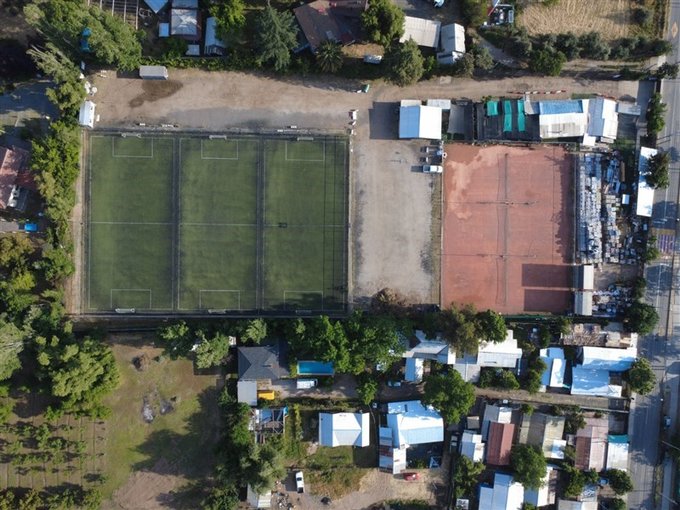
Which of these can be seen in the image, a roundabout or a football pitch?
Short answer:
football pitch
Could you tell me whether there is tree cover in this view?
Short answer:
Yes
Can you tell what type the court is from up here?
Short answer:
tennis court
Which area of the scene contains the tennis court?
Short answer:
right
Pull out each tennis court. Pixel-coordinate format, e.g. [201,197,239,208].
[441,144,577,317]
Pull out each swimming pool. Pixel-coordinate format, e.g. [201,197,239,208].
[298,361,333,376]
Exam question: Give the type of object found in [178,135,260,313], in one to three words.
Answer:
soccer field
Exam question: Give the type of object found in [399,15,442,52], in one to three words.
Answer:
shed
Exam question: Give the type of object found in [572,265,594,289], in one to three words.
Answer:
building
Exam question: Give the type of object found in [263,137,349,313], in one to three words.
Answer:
soccer field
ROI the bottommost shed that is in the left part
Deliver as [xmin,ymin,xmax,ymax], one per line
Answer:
[247,481,272,509]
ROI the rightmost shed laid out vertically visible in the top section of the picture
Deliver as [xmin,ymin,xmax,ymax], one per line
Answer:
[630,147,659,217]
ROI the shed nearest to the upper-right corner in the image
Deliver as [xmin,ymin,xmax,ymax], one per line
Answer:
[617,103,641,118]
